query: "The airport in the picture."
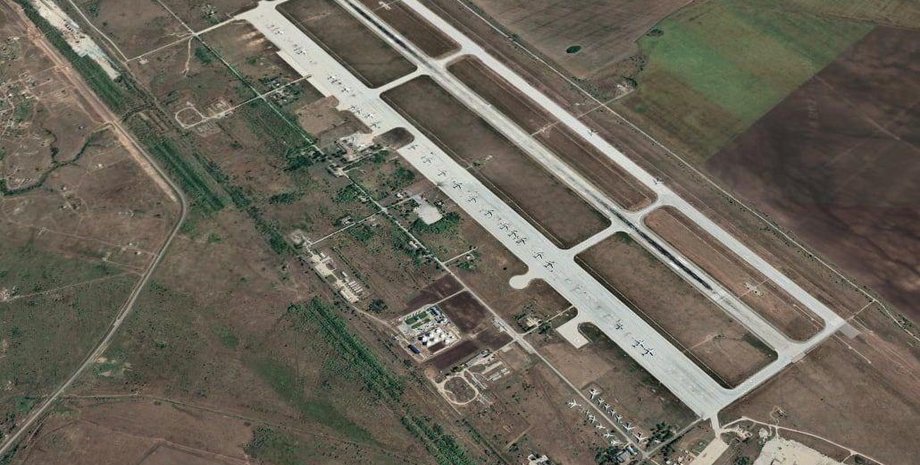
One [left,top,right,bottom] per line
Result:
[236,0,861,426]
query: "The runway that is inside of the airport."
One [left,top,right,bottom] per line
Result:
[336,0,788,349]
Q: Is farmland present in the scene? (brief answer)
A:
Yes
